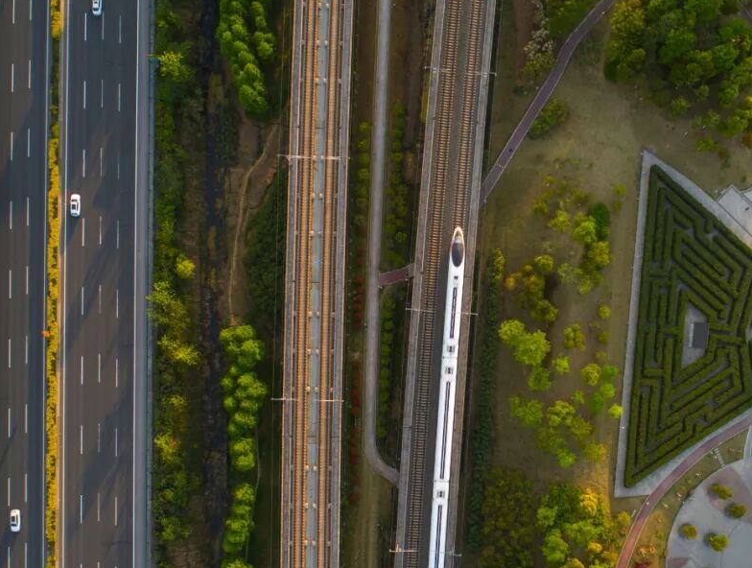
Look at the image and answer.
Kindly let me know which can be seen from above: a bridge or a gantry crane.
bridge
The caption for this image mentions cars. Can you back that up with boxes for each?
[91,0,102,15]
[9,509,21,532]
[69,195,81,217]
